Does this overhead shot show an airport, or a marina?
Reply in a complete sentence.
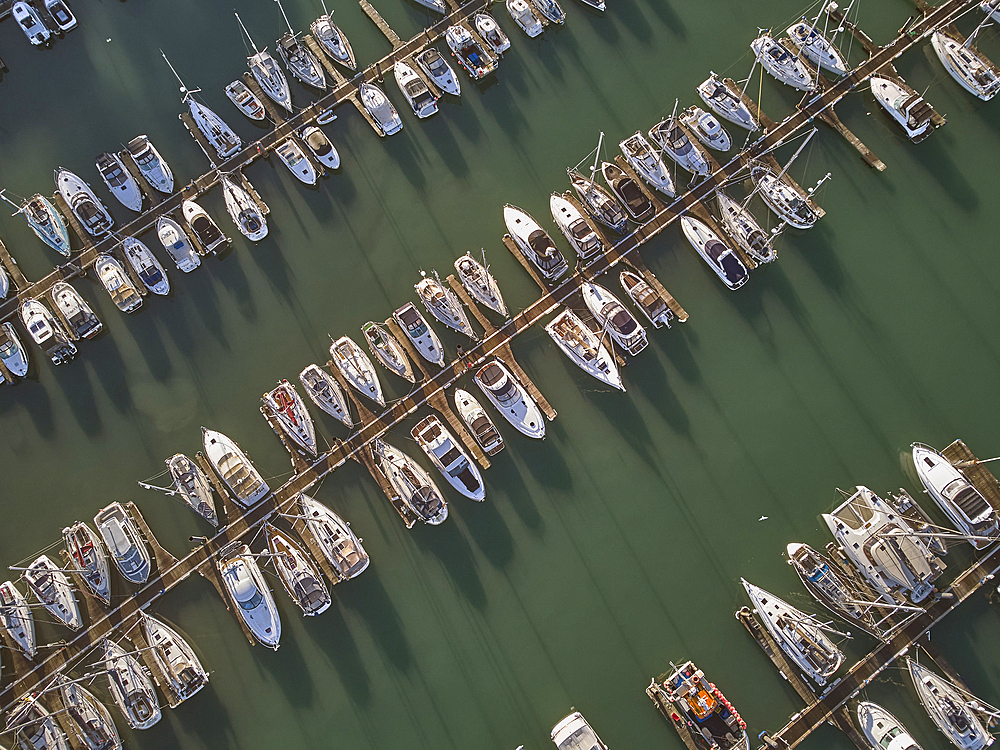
It's a marina.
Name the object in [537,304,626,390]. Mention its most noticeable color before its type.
white boat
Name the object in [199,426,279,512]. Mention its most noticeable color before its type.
white boat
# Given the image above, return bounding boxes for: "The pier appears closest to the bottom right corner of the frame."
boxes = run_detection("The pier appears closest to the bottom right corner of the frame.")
[909,643,1000,732]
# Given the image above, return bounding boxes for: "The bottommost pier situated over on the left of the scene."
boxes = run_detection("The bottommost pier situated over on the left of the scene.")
[40,688,84,750]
